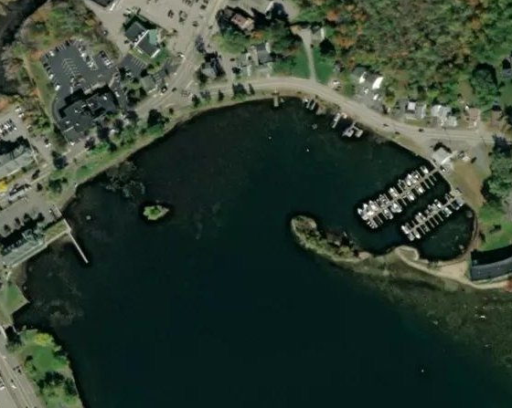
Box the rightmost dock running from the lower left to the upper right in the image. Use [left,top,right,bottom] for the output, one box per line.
[406,191,461,238]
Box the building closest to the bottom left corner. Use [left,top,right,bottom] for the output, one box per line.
[0,222,54,265]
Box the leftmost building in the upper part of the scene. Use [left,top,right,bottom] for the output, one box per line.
[0,138,39,180]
